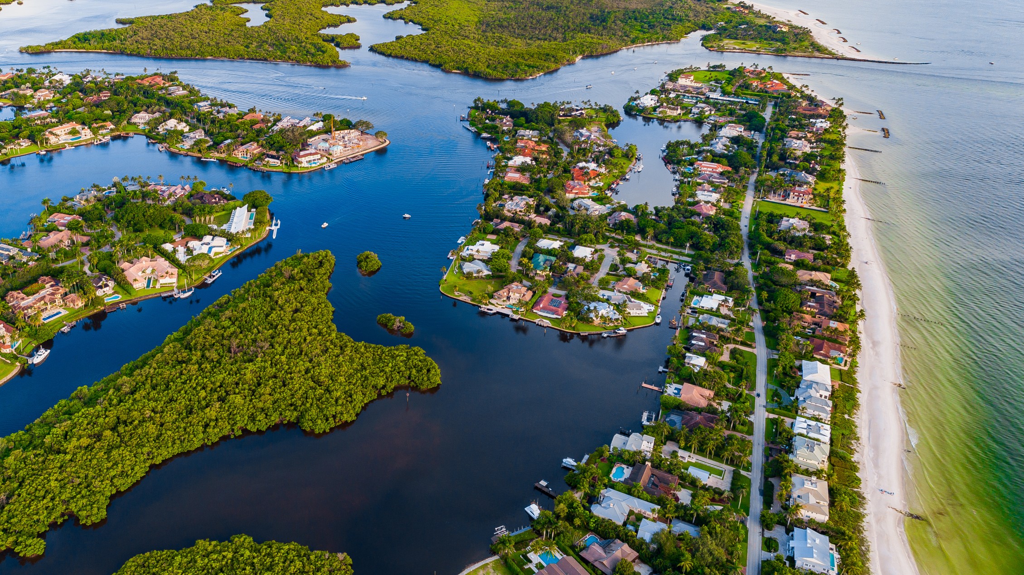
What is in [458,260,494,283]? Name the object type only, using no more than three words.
house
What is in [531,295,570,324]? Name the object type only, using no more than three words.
house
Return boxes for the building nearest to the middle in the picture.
[491,282,536,306]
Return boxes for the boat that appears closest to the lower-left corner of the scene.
[33,348,51,364]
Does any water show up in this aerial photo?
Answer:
Yes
